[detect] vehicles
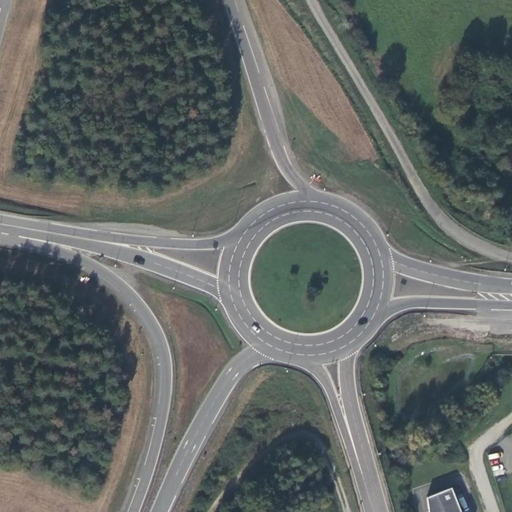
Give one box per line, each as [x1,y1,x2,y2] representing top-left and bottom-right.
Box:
[496,476,506,481]
[251,324,261,333]
[488,453,502,460]
[460,497,468,510]
[490,460,500,465]
[357,317,368,326]
[494,470,505,476]
[492,465,504,471]
[134,257,144,264]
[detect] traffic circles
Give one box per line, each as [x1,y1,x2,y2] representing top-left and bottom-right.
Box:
[218,186,396,368]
